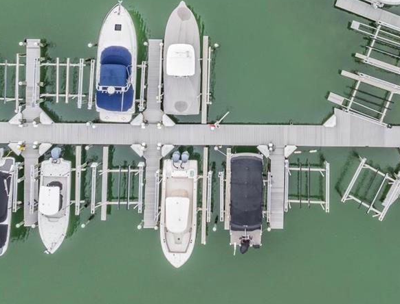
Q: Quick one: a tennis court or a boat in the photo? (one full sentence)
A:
There is a boat in the scene.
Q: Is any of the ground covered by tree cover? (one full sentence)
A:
No, tree cover can't be seen anywhere here.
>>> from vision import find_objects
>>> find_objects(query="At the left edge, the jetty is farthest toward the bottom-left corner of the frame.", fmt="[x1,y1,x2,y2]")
[9,143,54,226]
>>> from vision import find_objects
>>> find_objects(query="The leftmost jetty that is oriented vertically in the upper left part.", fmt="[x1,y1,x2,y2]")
[23,40,44,123]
